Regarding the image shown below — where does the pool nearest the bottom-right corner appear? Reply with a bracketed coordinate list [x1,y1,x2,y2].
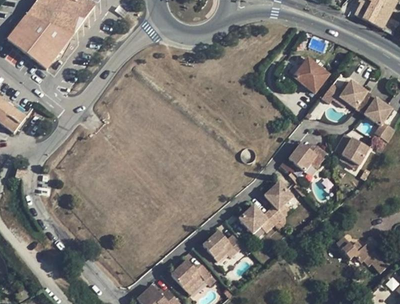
[312,180,328,202]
